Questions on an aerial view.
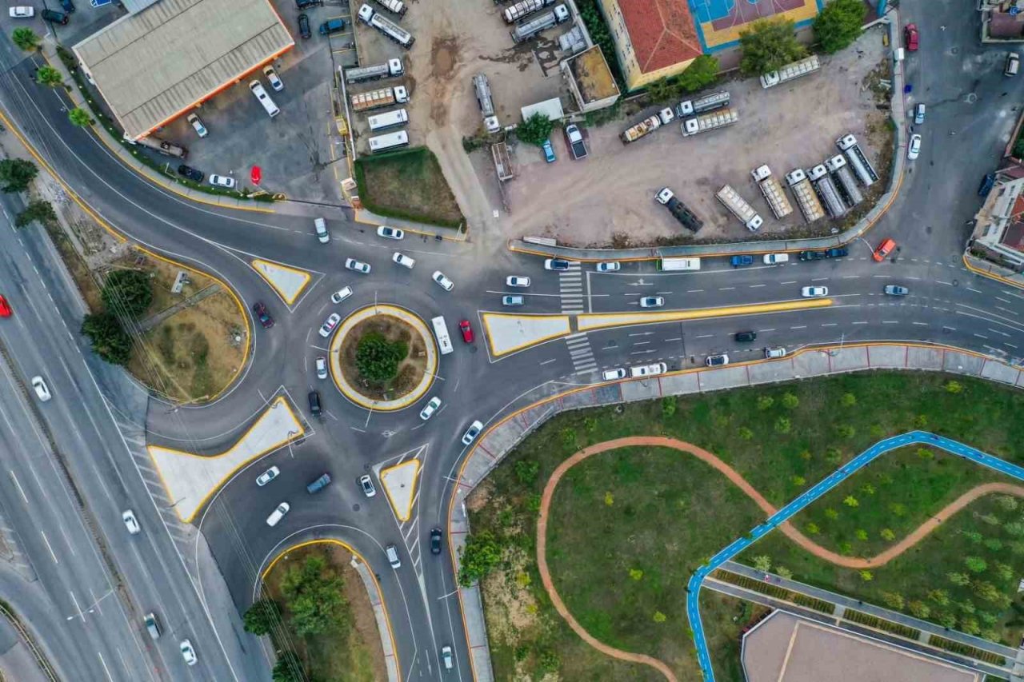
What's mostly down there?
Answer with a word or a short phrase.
paved ground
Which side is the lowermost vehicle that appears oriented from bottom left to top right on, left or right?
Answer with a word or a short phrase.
left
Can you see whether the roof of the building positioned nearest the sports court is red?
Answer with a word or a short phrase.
Yes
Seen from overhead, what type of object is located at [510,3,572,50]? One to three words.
truck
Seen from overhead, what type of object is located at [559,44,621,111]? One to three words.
shed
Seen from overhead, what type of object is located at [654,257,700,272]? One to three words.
vehicle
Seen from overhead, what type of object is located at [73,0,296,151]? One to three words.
building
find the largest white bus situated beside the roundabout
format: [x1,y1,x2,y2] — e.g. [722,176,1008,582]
[431,316,456,356]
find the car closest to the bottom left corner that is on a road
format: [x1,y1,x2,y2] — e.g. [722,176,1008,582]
[142,612,165,642]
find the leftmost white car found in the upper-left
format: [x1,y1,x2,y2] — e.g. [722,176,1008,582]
[10,5,36,19]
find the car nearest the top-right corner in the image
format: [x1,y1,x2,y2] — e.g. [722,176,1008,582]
[1002,52,1021,78]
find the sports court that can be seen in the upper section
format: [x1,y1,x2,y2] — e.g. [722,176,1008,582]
[687,0,821,53]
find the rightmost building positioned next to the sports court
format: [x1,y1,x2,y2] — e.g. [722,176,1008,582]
[606,0,702,90]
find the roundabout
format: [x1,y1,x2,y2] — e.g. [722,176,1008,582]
[328,302,438,412]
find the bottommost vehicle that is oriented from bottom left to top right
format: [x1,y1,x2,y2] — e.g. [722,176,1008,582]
[263,501,291,528]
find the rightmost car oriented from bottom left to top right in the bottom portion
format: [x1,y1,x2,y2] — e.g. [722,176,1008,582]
[459,419,484,447]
